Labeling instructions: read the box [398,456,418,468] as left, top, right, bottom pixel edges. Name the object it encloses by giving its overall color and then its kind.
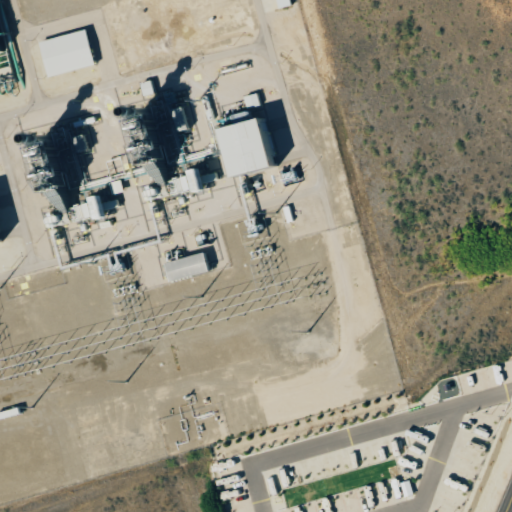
white vehicle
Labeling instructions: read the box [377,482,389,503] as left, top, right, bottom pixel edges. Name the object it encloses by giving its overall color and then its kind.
white vehicle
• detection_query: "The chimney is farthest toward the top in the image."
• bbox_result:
[112,104,148,118]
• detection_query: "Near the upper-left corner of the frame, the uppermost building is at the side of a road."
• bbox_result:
[40,30,96,77]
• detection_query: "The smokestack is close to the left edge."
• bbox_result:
[12,130,49,145]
